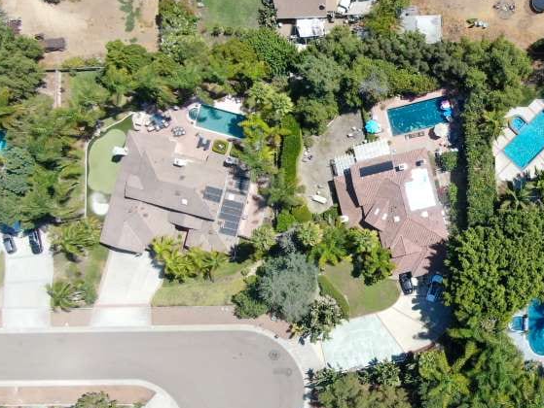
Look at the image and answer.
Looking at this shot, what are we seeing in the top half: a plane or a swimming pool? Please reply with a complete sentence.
Visible in the top half is a swimming pool.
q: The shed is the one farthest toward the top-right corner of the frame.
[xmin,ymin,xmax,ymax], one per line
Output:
[401,7,443,42]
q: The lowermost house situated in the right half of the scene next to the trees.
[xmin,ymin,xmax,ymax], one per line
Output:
[334,147,451,281]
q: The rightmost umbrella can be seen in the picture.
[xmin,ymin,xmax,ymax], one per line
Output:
[433,122,450,138]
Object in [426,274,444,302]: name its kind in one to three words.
car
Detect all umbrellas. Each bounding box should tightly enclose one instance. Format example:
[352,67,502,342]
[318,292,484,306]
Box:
[365,119,382,134]
[150,110,166,126]
[433,122,450,138]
